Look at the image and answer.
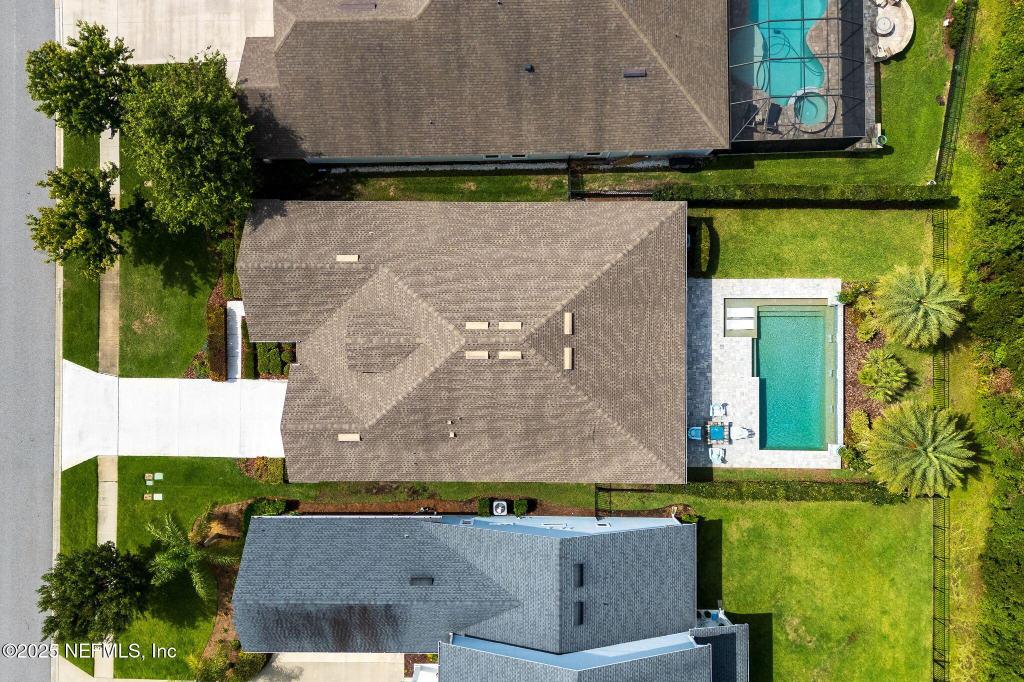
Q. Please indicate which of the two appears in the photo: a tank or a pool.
pool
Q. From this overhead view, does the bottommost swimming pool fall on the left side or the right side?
right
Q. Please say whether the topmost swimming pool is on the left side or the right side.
right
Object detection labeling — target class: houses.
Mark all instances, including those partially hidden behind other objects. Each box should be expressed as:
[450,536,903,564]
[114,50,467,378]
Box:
[235,508,751,682]
[236,0,730,166]
[237,199,689,486]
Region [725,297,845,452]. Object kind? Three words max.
swimming pool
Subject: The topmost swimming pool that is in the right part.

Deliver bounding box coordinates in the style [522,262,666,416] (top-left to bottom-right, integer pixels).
[730,0,832,108]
